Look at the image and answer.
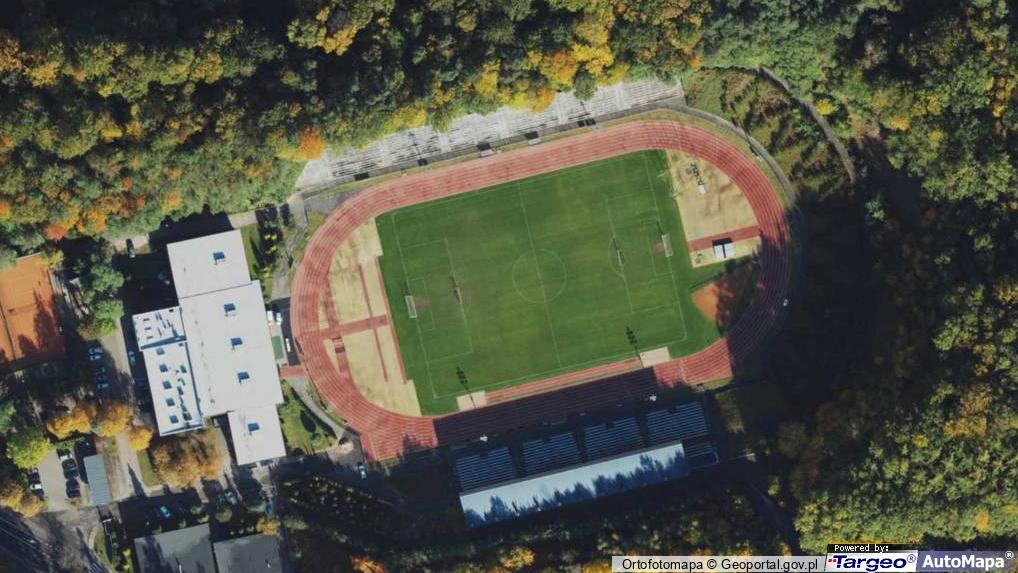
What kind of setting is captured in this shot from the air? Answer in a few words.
sports ground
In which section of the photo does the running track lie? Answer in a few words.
center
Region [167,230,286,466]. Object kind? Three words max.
building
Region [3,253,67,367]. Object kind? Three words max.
tennis court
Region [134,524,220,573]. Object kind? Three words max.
building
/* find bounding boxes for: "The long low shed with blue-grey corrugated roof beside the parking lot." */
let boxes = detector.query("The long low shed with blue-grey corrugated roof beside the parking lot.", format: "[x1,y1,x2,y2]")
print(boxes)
[84,454,112,505]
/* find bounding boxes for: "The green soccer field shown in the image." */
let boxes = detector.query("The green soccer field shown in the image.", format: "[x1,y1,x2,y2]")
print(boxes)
[375,151,762,415]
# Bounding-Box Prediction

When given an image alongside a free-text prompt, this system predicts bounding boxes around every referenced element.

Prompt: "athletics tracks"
[279,121,792,461]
